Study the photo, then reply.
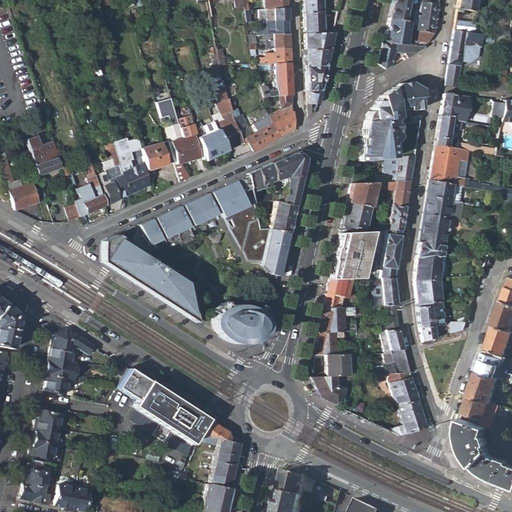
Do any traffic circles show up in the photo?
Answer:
Yes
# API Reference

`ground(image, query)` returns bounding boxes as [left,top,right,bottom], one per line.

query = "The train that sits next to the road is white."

[0,244,64,288]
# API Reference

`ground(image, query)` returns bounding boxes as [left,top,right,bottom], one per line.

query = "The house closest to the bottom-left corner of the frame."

[17,472,44,505]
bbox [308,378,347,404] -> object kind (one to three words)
house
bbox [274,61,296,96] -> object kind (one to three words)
house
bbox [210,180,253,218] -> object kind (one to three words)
building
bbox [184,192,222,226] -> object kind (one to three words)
building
